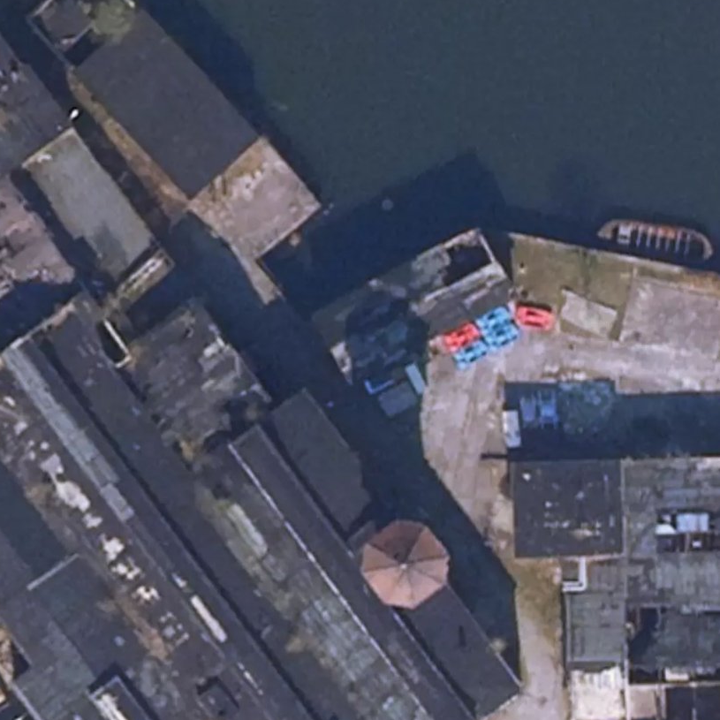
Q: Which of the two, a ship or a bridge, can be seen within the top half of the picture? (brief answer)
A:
ship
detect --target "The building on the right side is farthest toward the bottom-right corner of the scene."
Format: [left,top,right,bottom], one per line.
[631,609,720,681]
